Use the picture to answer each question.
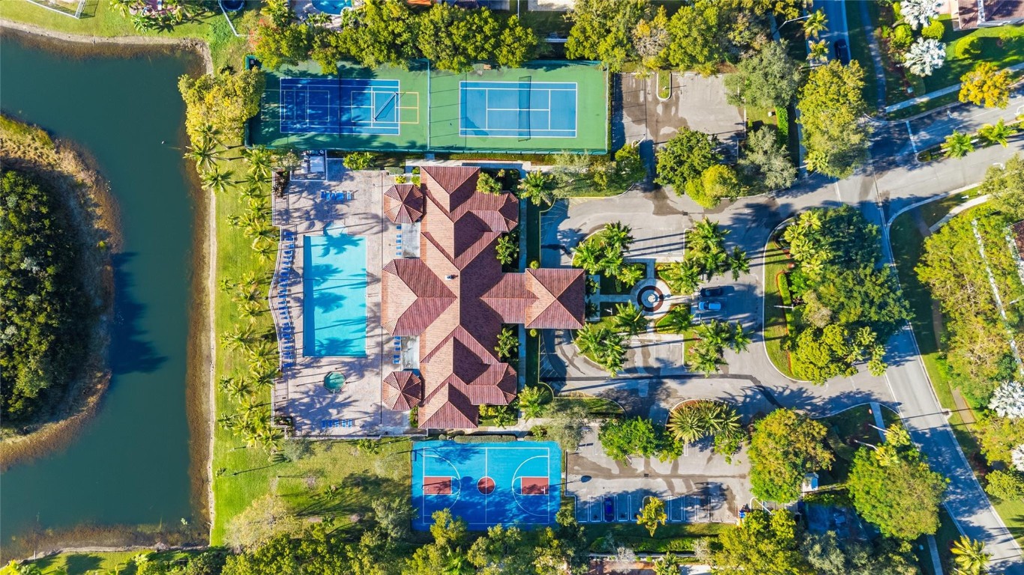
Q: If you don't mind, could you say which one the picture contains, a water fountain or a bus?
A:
water fountain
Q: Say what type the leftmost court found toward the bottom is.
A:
basketball court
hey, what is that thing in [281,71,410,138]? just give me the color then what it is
blue tennis court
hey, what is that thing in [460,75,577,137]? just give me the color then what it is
blue tennis court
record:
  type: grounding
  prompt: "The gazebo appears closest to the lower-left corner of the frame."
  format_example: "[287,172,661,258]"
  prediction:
[383,371,419,411]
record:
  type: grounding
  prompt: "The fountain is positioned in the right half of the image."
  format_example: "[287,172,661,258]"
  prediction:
[637,284,664,311]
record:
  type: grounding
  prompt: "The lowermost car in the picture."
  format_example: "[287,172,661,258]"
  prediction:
[604,498,616,523]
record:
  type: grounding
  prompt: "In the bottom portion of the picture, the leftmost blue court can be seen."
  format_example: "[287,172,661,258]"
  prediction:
[412,441,561,531]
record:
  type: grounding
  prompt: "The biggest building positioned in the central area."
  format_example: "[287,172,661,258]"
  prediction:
[381,166,585,428]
